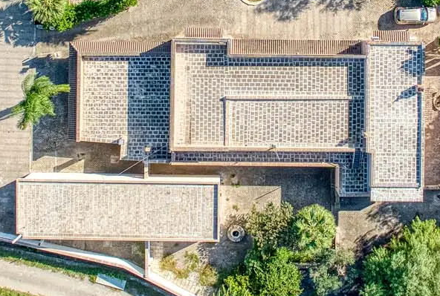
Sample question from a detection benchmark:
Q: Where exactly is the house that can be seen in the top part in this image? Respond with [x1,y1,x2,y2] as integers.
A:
[69,27,425,201]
